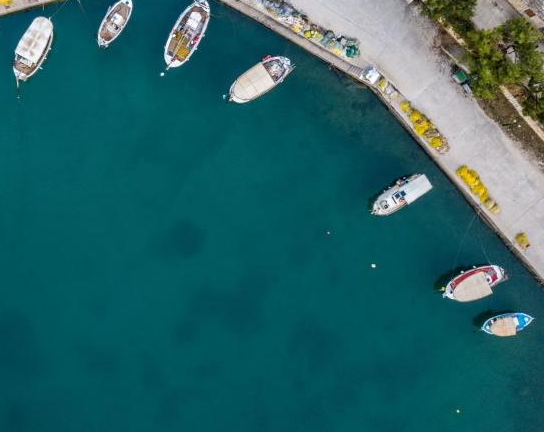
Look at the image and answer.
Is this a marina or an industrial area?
marina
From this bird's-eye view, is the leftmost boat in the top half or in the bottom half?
top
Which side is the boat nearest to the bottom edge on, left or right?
right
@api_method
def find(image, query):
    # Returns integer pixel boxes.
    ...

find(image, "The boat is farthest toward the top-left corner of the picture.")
[14,15,53,90]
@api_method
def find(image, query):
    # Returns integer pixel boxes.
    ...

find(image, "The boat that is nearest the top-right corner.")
[369,172,431,217]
